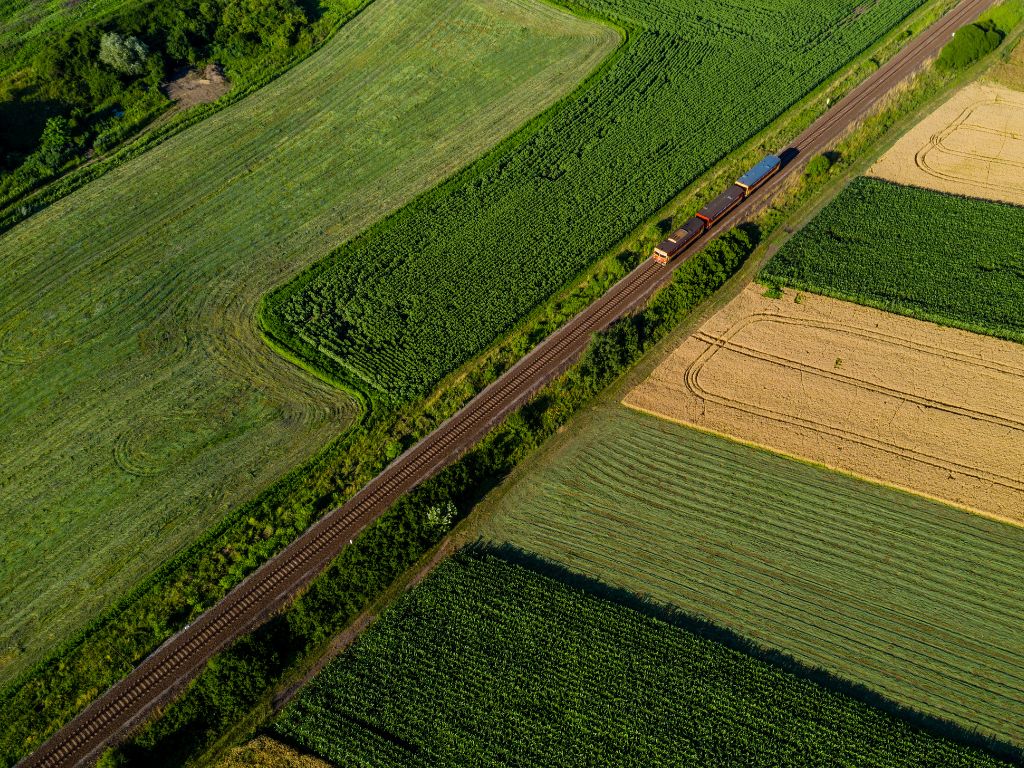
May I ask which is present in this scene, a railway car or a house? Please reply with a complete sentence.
There is a railway car in the scene.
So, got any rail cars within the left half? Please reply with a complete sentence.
No, the scene shows no rail car within the left half.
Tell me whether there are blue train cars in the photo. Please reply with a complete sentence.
Yes, there's a blue train car here.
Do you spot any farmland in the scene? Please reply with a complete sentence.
Yes, there's farmland in this view.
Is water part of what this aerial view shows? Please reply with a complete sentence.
No, the scene doesn't show any water.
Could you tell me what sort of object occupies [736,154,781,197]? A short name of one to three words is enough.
rail car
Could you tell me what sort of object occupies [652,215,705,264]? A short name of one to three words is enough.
rail car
